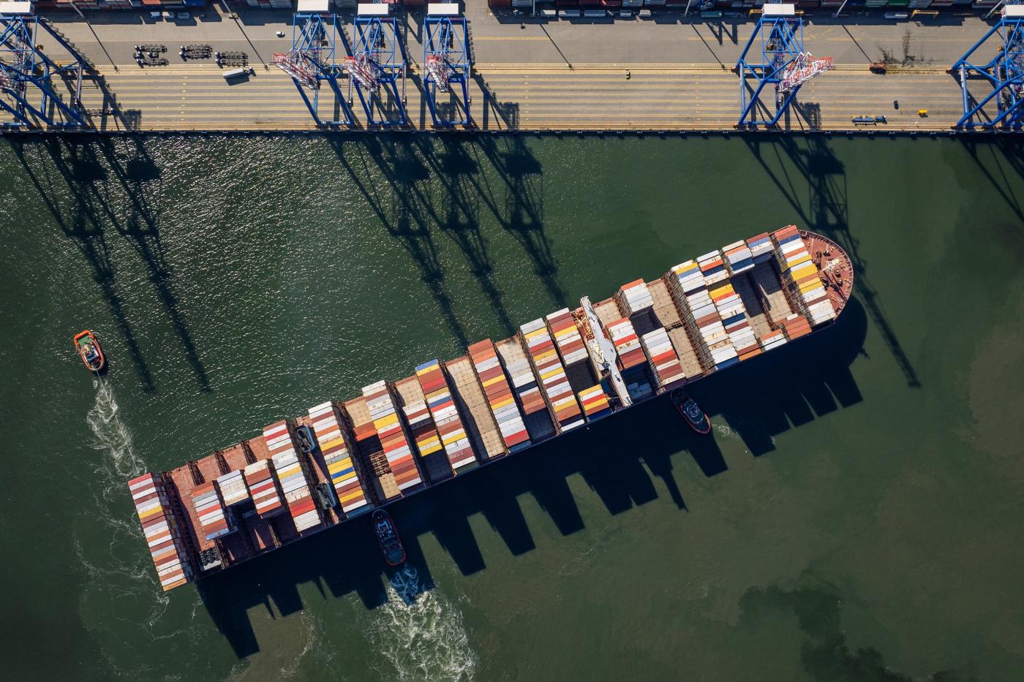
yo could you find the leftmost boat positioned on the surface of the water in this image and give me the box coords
[71,325,103,373]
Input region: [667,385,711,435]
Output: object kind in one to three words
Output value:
boat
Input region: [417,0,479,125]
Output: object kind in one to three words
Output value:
container crane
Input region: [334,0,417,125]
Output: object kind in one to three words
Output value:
container crane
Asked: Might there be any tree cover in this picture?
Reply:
No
